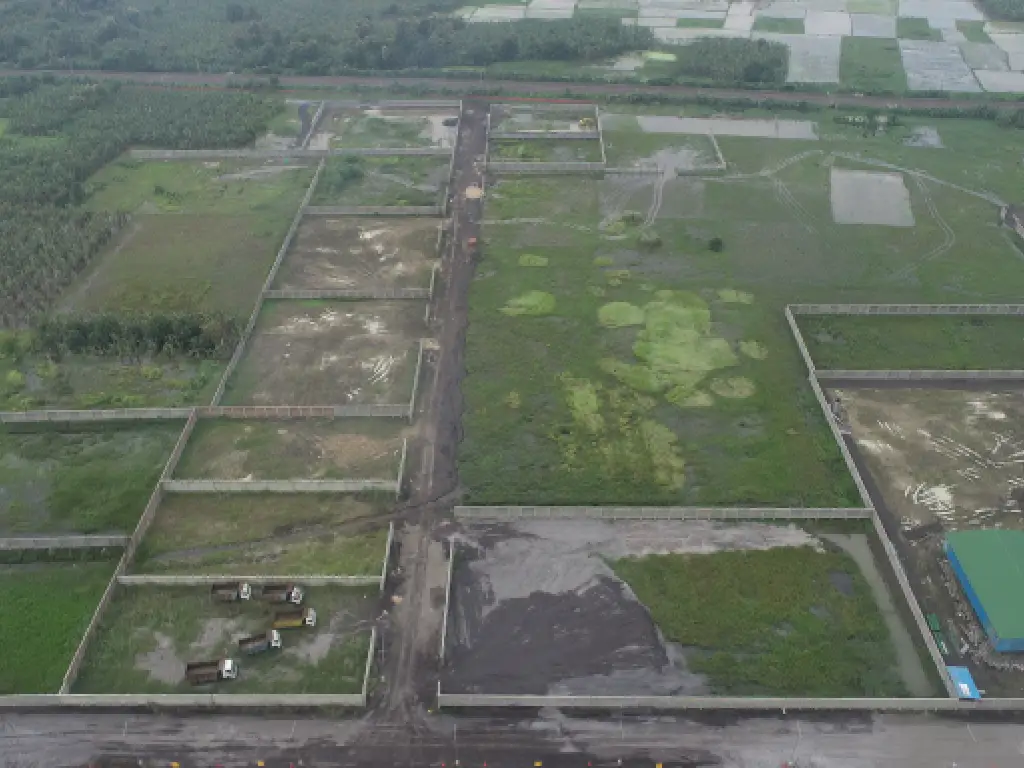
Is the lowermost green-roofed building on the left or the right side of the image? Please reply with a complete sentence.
The lowermost green-roofed building is on the right side of the image.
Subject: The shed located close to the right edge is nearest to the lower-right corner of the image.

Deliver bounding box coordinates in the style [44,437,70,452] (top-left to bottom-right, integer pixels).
[947,667,980,698]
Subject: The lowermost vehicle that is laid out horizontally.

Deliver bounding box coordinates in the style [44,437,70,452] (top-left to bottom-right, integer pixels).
[180,656,240,686]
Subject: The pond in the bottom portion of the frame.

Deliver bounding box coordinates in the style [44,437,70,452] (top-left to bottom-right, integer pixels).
[836,532,935,696]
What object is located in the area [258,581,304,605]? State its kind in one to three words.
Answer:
truck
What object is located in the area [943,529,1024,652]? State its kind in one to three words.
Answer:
building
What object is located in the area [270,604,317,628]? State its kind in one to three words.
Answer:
truck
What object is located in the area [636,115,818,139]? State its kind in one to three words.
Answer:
pond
